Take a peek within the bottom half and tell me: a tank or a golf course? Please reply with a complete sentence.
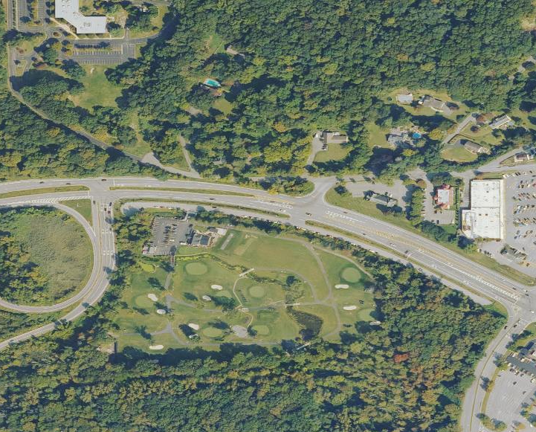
What appears within the bottom half is a golf course.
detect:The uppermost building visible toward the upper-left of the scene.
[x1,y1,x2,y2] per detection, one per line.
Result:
[55,0,106,34]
